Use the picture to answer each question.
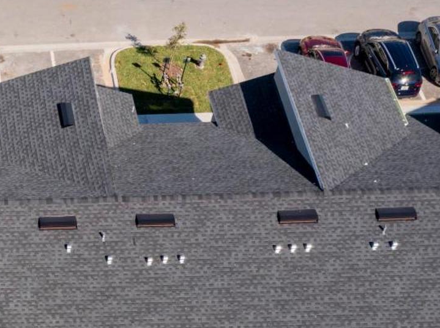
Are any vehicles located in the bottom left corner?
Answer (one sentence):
No, I see no vehicle in the bottom left corner.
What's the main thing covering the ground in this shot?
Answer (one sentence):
What you mostly see from above here is buildings.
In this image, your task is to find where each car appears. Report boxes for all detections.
[301,39,365,74]
[354,30,428,103]
[416,19,440,80]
